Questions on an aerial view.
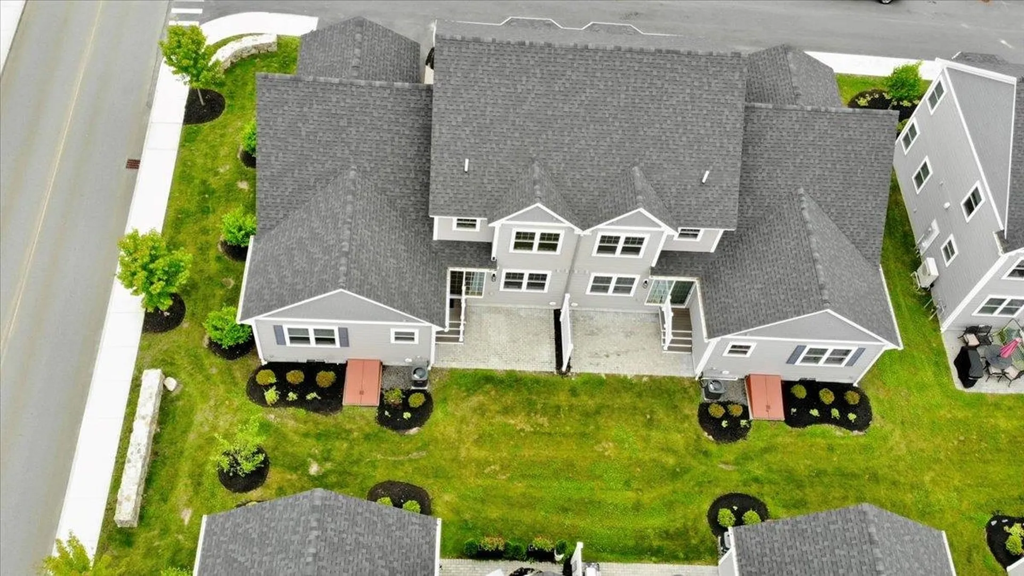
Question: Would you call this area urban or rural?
urban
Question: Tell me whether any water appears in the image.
No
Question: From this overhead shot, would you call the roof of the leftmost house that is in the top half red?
No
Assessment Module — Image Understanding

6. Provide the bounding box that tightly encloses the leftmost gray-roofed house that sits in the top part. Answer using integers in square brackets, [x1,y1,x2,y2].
[234,16,905,384]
